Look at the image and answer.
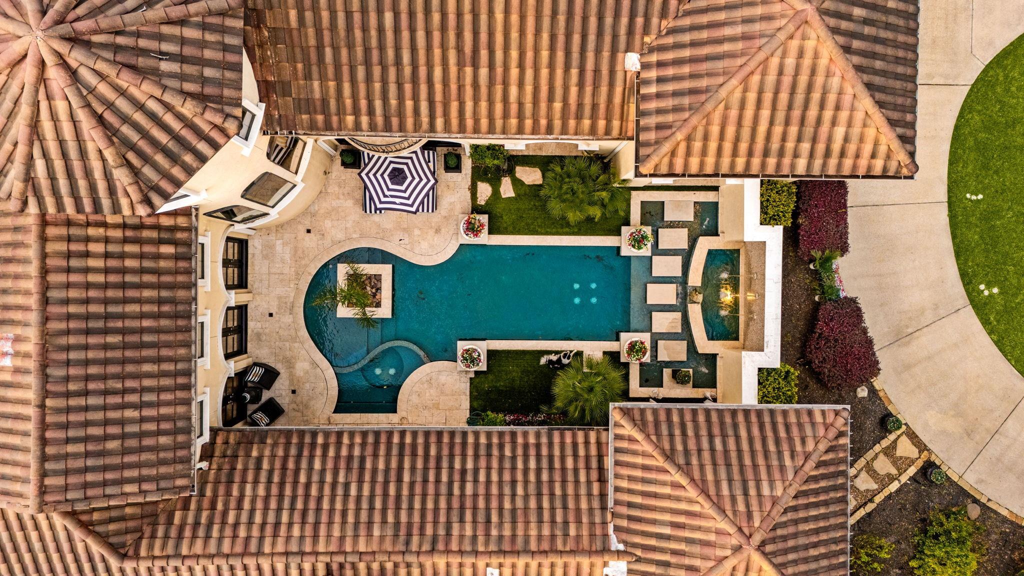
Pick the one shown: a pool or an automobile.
pool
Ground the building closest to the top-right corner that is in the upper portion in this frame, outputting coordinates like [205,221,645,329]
[615,0,924,189]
